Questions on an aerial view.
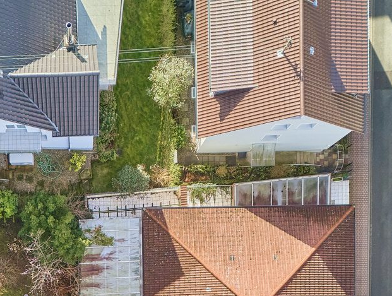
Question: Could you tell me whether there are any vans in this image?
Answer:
No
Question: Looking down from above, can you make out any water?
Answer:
No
